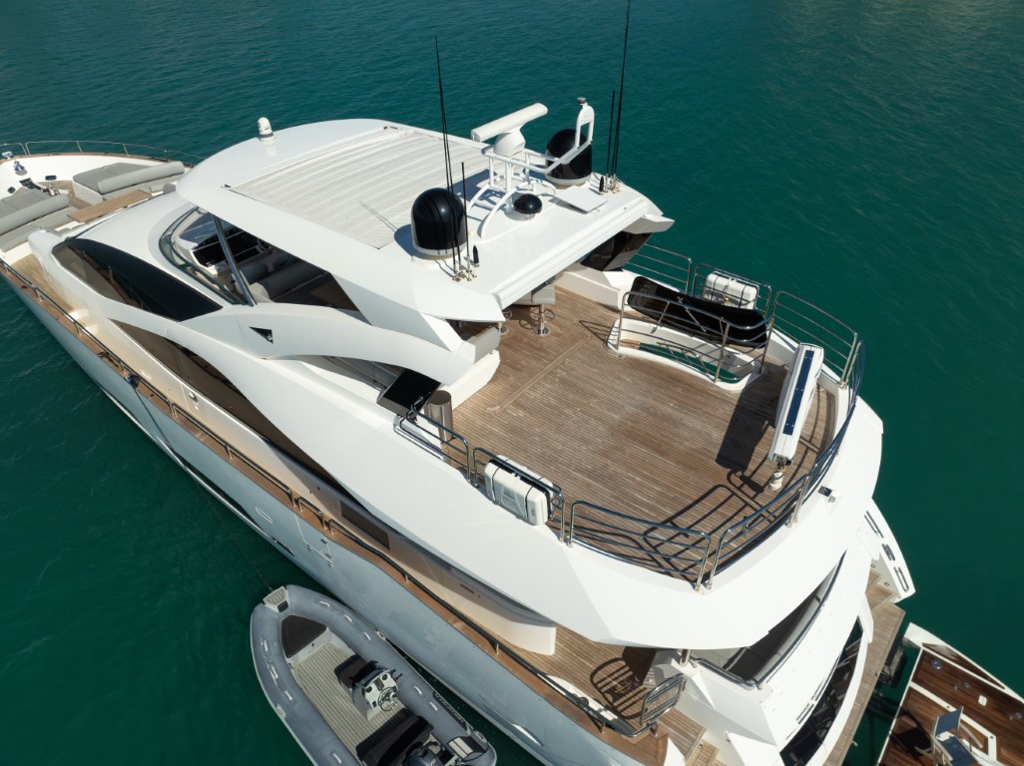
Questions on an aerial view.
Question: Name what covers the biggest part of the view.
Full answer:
Most of the picture is covered by water.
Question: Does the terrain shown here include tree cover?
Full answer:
No, the picture contains no tree cover.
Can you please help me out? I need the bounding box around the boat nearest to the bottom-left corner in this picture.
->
[253,580,505,766]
